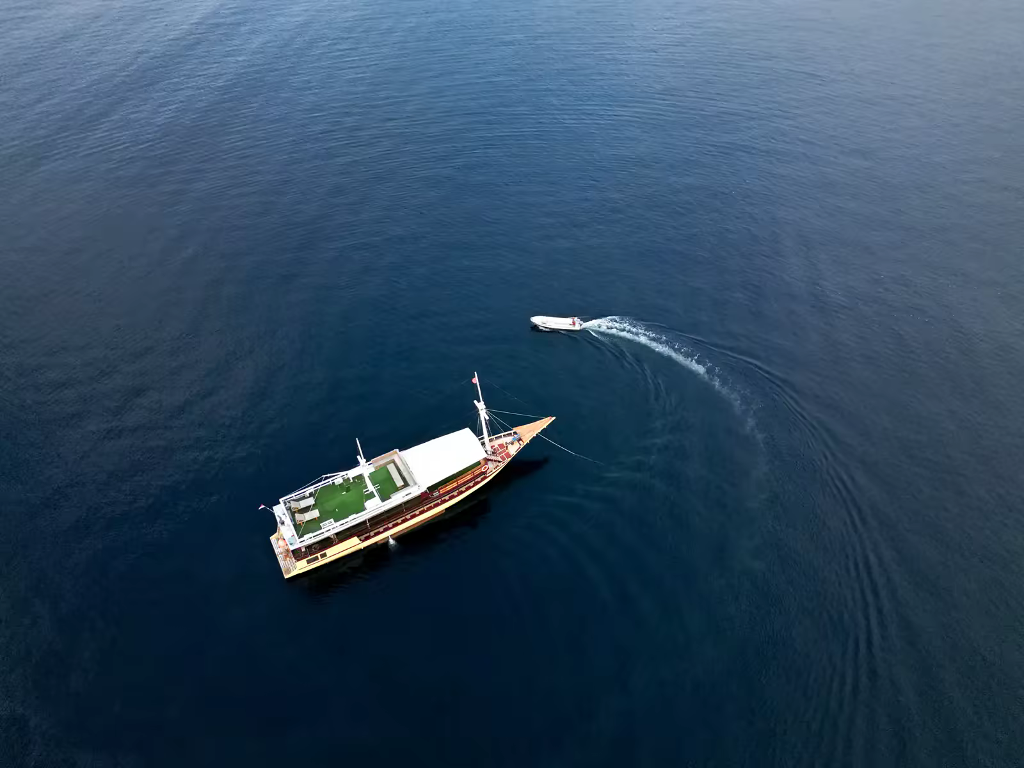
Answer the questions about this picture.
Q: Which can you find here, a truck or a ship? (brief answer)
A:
ship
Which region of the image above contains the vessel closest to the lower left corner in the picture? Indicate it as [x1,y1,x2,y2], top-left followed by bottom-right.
[269,372,556,579]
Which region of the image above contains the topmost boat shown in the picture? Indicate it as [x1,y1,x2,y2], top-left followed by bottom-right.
[531,315,586,330]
